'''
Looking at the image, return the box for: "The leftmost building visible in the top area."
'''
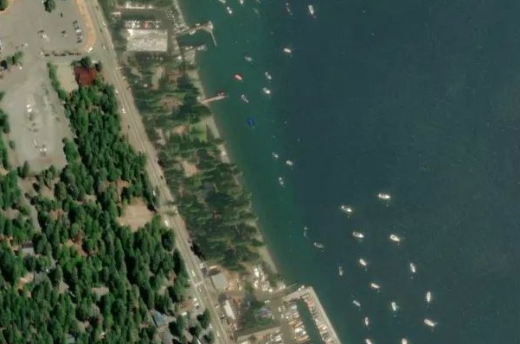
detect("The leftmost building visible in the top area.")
[75,67,96,87]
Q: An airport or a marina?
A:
marina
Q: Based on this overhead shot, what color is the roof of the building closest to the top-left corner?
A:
red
